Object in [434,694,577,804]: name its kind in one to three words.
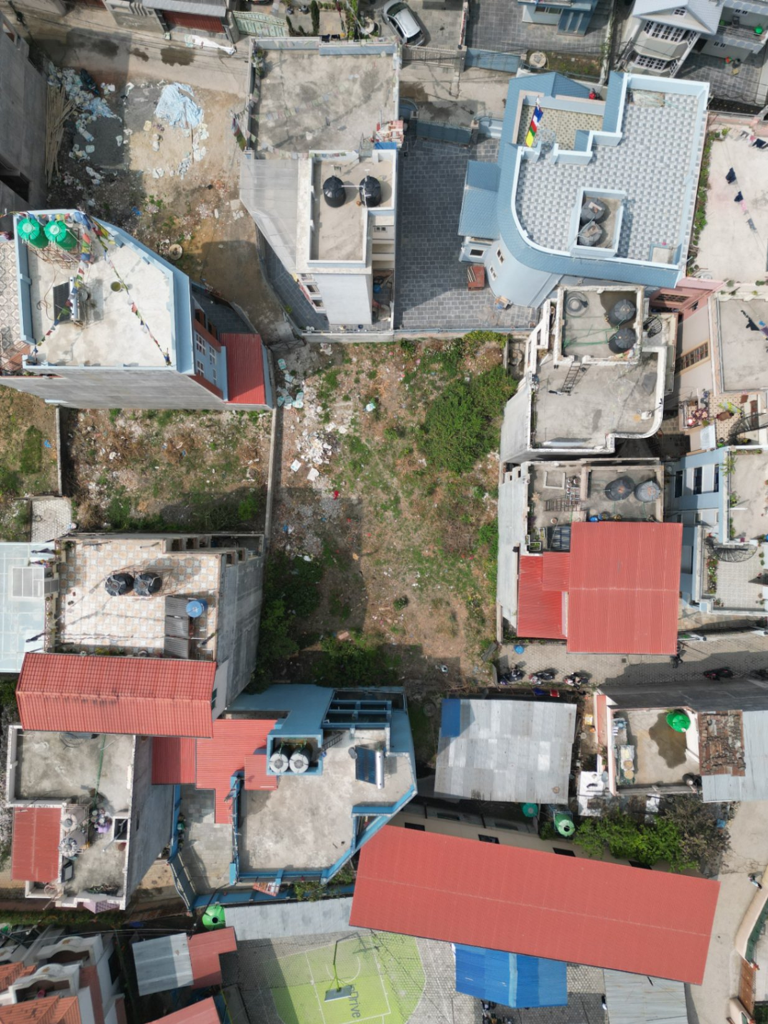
shed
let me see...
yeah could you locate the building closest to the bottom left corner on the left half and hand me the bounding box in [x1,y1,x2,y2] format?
[0,913,140,1024]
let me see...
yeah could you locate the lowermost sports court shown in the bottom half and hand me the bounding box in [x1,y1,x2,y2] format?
[271,935,425,1024]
